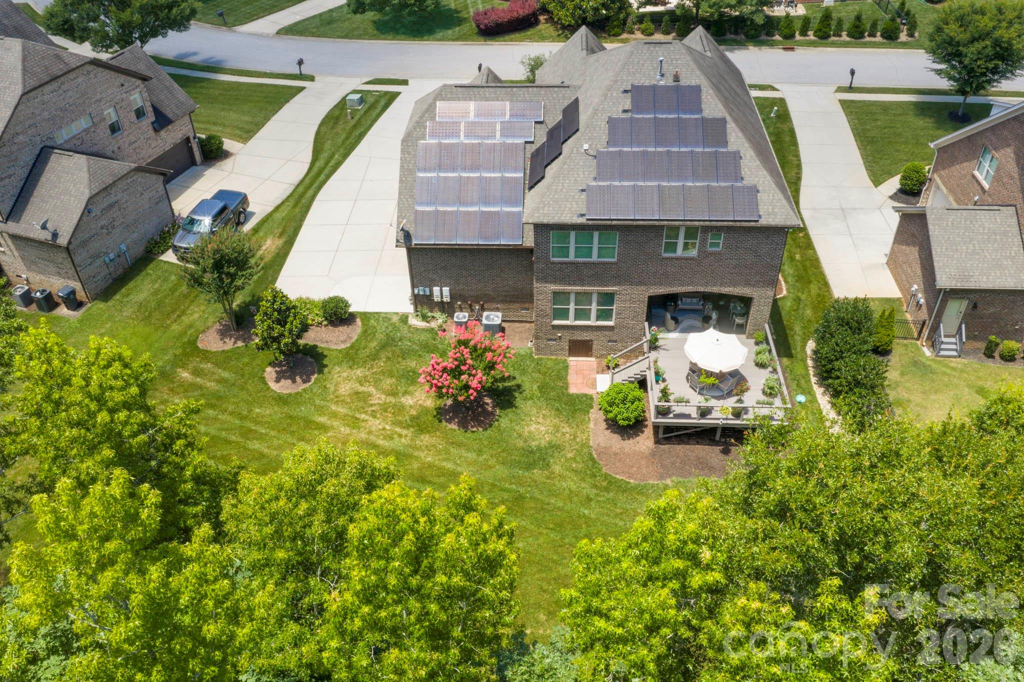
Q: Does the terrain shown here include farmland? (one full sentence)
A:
No, the picture contains no farmland.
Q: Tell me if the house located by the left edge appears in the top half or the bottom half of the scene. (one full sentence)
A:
The house located by the left edge is in the top half of the image.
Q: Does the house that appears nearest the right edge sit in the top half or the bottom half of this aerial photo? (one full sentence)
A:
The house that appears nearest the right edge sits in the top half of the picture.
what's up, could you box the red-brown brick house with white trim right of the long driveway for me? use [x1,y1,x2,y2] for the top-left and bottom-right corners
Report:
[882,101,1024,350]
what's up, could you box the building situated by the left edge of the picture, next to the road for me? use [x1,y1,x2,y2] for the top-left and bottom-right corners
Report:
[0,0,202,302]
